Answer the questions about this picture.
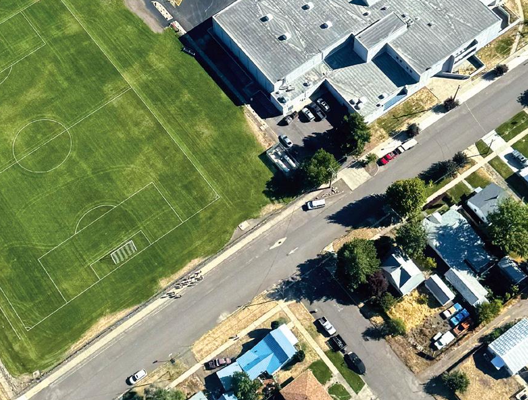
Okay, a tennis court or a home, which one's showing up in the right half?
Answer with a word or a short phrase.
home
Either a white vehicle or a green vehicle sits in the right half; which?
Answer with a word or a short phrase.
white vehicle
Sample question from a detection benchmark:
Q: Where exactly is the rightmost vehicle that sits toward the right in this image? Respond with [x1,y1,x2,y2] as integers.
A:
[510,148,528,164]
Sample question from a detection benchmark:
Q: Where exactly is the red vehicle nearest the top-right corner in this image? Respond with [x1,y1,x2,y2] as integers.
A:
[379,150,397,165]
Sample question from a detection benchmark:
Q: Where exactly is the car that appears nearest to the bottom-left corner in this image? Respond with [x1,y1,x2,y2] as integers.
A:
[130,369,146,385]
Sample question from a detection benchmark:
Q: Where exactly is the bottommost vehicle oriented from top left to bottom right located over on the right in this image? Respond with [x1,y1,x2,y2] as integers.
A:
[347,355,363,371]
